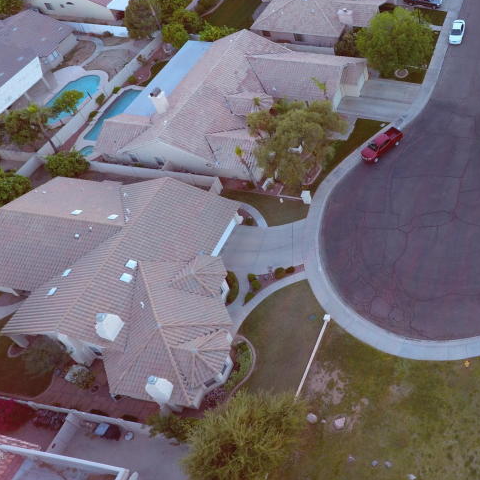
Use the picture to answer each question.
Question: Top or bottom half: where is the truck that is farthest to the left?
top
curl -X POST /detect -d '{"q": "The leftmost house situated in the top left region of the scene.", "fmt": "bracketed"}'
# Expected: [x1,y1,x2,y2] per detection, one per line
[0,9,79,114]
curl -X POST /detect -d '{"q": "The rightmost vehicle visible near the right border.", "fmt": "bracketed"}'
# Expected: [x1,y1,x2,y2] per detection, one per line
[449,20,464,42]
